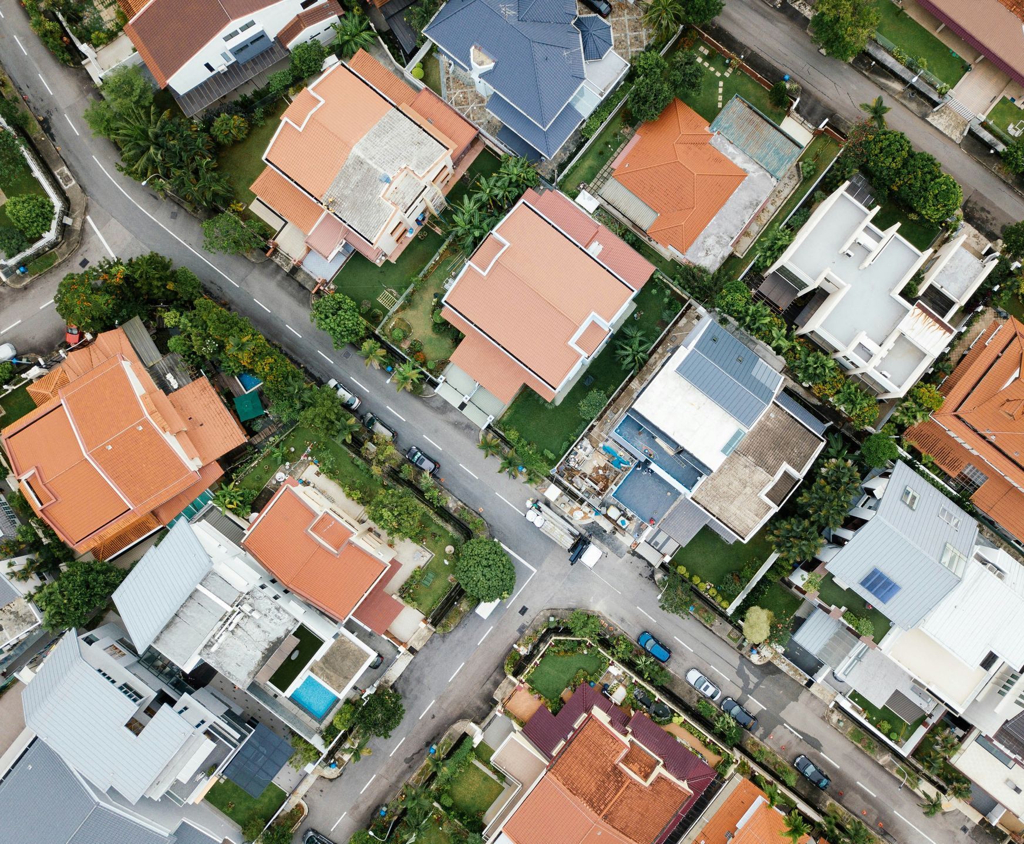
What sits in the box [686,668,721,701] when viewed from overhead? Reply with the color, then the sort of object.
white car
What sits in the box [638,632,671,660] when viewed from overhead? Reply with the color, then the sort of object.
blue car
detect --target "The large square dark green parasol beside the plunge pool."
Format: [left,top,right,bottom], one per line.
[233,392,265,422]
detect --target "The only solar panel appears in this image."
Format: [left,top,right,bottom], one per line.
[860,567,901,605]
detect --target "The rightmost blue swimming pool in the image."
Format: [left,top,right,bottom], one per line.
[287,675,344,723]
